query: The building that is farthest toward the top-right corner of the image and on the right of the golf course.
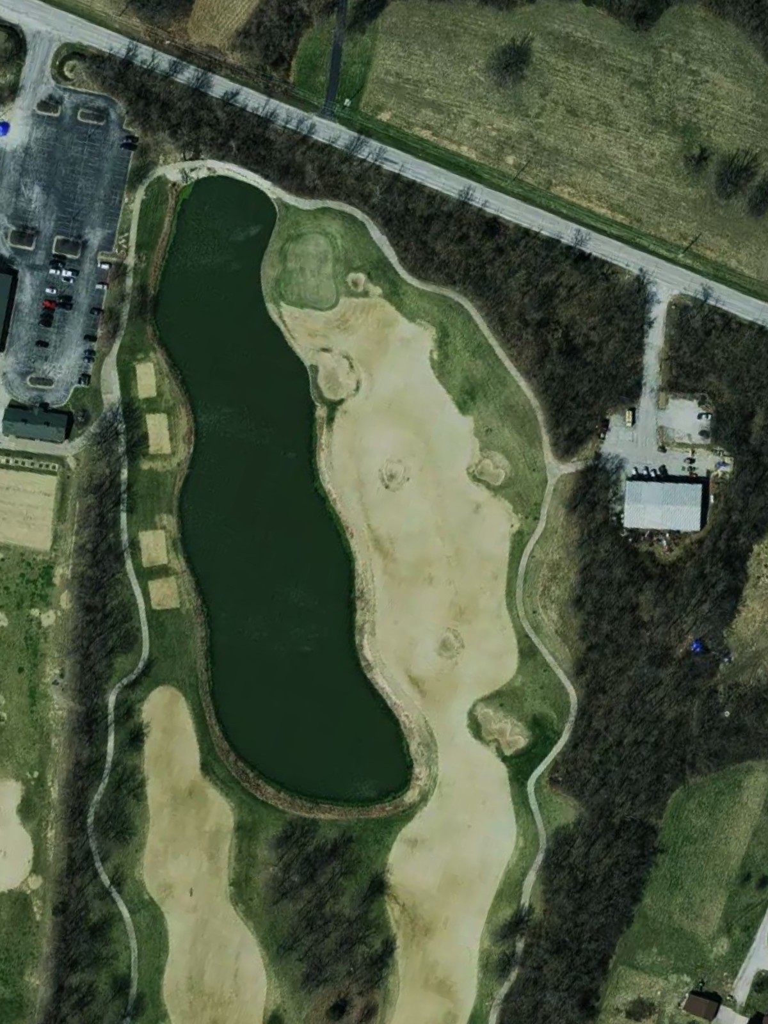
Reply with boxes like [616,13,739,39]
[624,481,703,532]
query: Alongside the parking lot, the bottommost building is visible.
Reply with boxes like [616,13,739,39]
[1,404,68,443]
